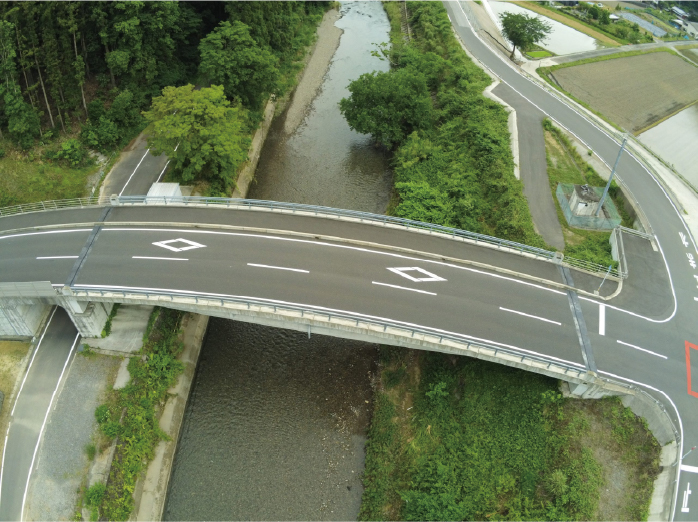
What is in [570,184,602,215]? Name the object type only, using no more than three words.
shed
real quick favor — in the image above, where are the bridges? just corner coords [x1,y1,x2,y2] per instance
[0,194,626,401]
